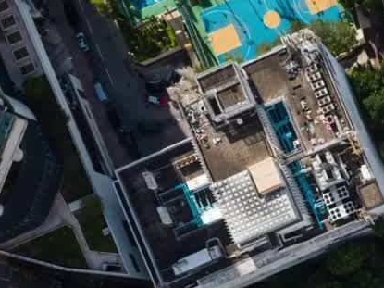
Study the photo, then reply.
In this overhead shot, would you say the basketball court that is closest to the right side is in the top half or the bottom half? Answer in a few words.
top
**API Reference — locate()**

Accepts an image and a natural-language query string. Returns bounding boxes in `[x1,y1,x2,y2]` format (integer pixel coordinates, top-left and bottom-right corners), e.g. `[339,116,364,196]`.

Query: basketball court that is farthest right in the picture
[190,0,353,64]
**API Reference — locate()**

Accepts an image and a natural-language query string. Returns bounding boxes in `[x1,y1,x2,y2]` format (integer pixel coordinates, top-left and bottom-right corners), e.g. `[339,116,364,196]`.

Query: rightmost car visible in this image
[146,93,170,106]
